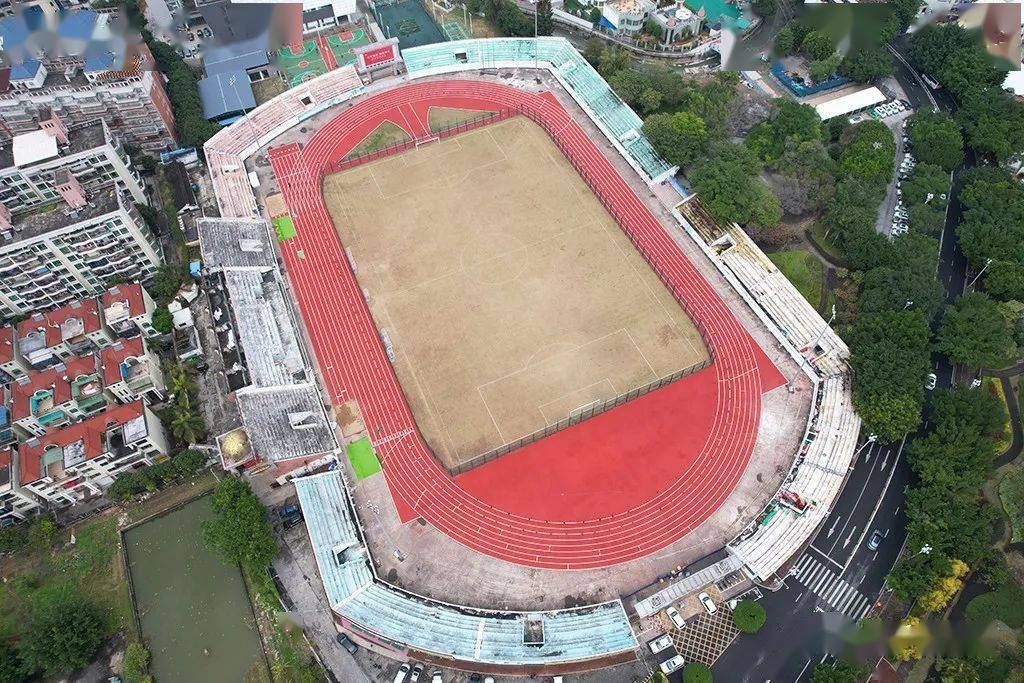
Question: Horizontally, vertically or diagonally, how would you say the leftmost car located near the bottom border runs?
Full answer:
Seen from above, the leftmost car located near the bottom border lies diagonally.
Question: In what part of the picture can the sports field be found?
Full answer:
The sports field is located in the center region of the scene.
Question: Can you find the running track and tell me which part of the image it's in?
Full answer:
Look in the center portion of the view to spot the running track.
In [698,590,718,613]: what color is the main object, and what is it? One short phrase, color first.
white car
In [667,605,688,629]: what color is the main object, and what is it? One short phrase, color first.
white car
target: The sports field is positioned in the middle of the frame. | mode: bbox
[318,113,718,477]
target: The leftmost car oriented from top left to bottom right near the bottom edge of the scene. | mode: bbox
[334,631,358,656]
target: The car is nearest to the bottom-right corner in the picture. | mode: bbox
[868,526,887,550]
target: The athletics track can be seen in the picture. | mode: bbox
[266,80,792,569]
